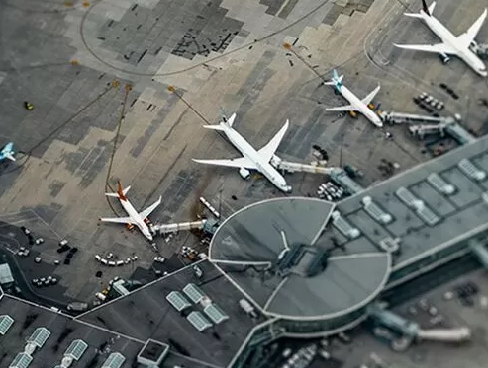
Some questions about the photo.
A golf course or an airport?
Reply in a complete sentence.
What you see here is an airport.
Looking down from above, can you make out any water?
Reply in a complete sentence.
No, no water is visible.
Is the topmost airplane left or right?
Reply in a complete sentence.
You can find the topmost airplane on the right side of the picture.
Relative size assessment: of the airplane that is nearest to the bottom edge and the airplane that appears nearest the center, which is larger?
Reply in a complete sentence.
It is the airplane that appears nearest the center that is larger, not the airplane that is nearest to the bottom edge.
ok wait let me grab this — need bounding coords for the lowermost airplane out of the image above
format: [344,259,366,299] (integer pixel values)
[99,192,161,242]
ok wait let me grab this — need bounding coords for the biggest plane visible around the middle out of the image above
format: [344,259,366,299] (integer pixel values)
[196,112,292,192]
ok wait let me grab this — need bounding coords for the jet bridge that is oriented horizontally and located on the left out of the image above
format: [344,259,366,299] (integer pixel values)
[148,219,216,242]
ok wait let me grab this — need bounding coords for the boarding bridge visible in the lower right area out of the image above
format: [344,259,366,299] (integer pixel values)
[411,329,478,349]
